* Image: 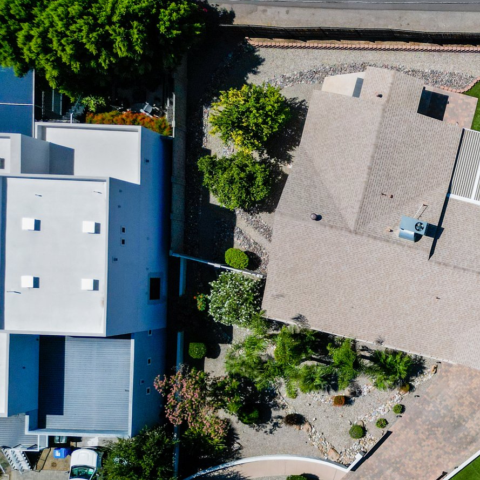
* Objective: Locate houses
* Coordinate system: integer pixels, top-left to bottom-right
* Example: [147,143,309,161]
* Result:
[0,123,170,452]
[261,67,480,372]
